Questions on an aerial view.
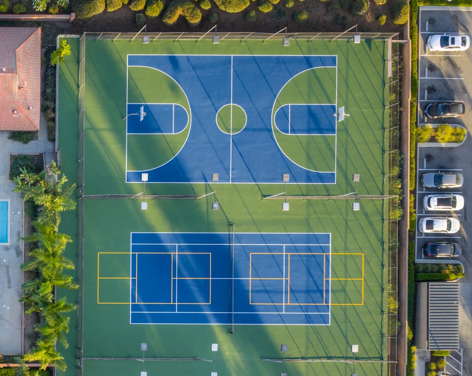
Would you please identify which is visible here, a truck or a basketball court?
basketball court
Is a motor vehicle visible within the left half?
No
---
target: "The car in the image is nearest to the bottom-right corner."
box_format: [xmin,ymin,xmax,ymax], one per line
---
[422,239,462,259]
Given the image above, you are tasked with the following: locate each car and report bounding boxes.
[422,239,462,259]
[425,31,469,52]
[419,170,463,190]
[421,192,463,212]
[422,99,465,119]
[416,215,459,235]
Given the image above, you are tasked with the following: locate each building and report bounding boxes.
[407,282,458,351]
[0,27,40,131]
